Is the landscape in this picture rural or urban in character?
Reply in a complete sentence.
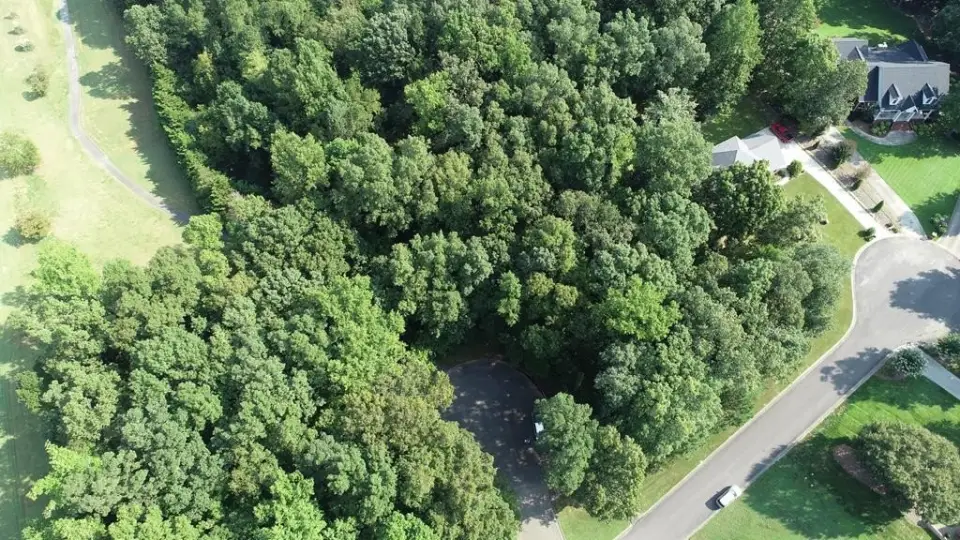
The area is rural.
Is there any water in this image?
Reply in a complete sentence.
No, no water is visible.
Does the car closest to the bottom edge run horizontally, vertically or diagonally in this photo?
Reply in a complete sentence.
In this picture, the car closest to the bottom edge is oriented diagonally.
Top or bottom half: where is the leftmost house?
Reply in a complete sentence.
Seen from above, the leftmost house lies in the top half of the view.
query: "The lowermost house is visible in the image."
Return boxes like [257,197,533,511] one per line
[712,135,788,179]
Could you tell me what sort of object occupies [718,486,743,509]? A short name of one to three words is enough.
car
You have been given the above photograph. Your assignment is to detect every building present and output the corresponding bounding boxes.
[822,38,952,128]
[712,135,788,179]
